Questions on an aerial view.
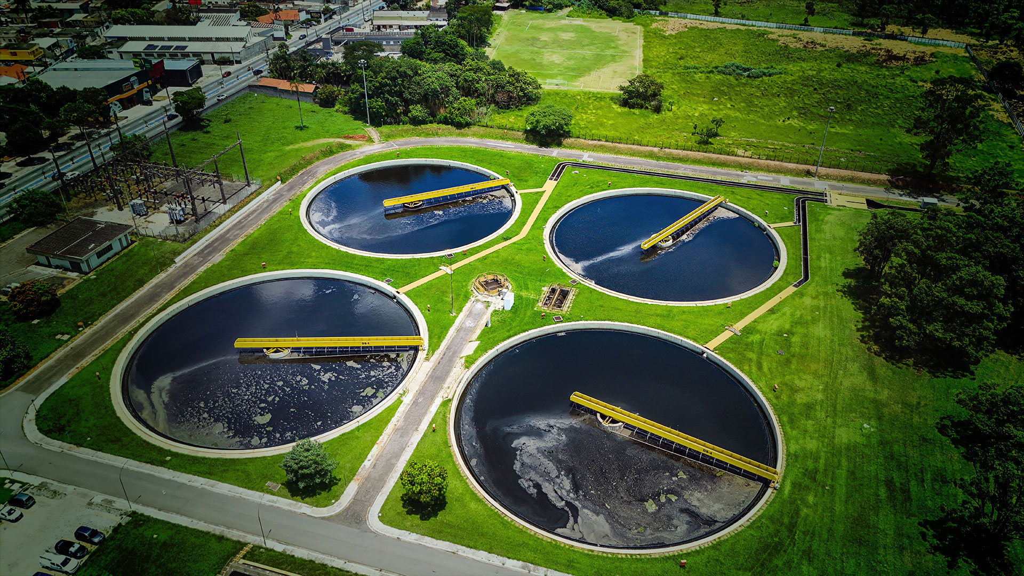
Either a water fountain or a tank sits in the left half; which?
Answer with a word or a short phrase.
tank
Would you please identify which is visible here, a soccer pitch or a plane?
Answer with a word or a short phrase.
soccer pitch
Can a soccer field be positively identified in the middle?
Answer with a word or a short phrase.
No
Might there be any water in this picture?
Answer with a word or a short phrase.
Yes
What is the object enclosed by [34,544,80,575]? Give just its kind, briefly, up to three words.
truck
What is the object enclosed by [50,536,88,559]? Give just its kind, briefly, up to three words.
car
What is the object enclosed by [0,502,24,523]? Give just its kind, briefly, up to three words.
car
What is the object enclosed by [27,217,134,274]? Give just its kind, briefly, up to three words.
building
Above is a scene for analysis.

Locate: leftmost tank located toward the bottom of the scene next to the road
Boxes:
[107,268,431,463]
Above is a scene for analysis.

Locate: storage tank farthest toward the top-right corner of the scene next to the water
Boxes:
[541,187,788,309]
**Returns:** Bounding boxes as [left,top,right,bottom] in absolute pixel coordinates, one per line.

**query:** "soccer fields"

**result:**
[497,14,643,90]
